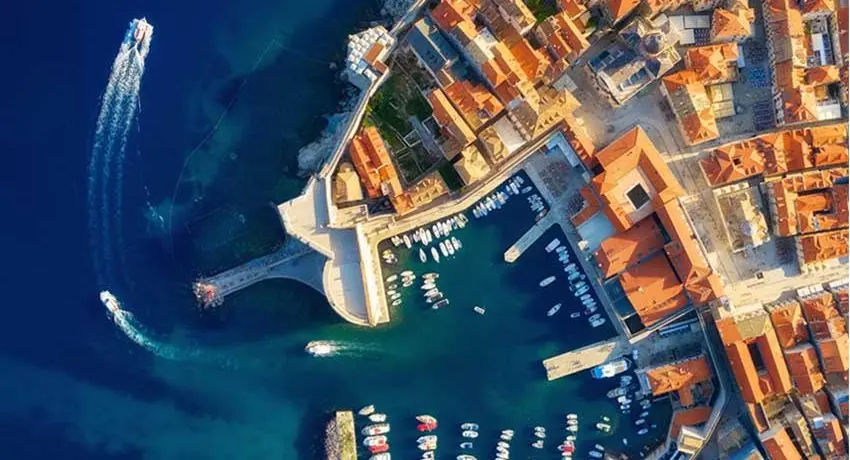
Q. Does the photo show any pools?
No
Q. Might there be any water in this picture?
Yes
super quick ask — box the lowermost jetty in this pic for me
[336,410,357,460]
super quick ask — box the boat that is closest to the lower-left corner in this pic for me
[100,291,116,310]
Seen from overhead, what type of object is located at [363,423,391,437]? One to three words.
boat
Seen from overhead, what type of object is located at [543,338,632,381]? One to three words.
pier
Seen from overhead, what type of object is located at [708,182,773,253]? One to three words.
building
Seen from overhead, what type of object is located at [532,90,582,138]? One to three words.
house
